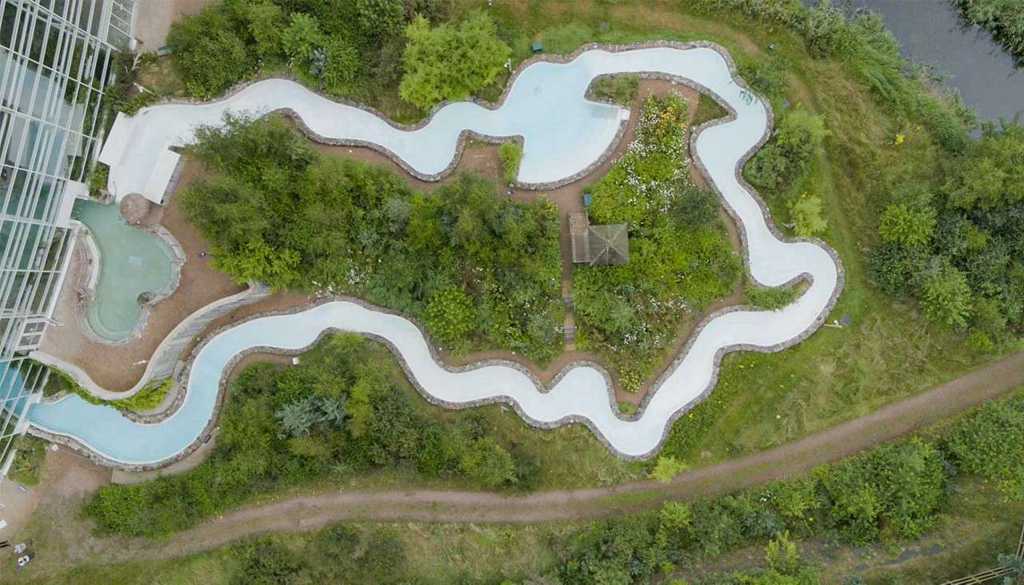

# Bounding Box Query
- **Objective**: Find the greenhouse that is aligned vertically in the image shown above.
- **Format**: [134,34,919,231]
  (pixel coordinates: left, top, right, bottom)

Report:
[0,0,157,508]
